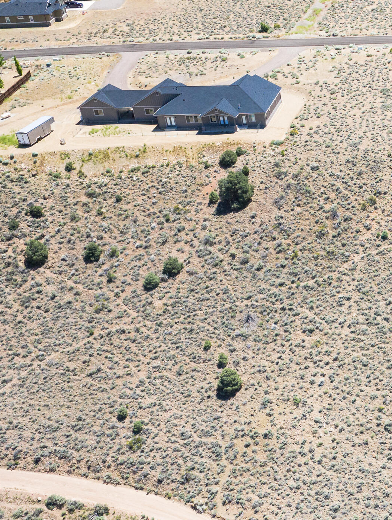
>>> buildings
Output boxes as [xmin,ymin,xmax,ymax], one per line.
[76,74,282,132]
[0,0,78,28]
